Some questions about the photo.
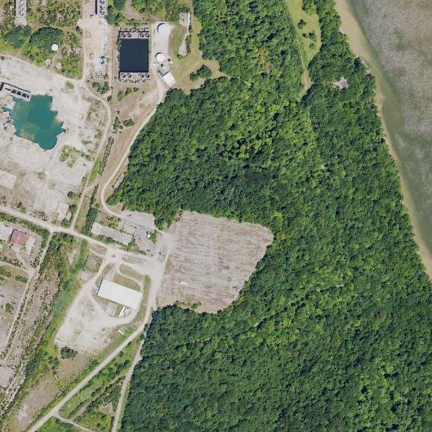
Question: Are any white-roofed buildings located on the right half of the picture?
No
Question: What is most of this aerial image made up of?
trees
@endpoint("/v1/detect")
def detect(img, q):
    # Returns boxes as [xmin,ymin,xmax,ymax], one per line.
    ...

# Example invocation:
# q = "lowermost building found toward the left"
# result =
[97,279,142,309]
